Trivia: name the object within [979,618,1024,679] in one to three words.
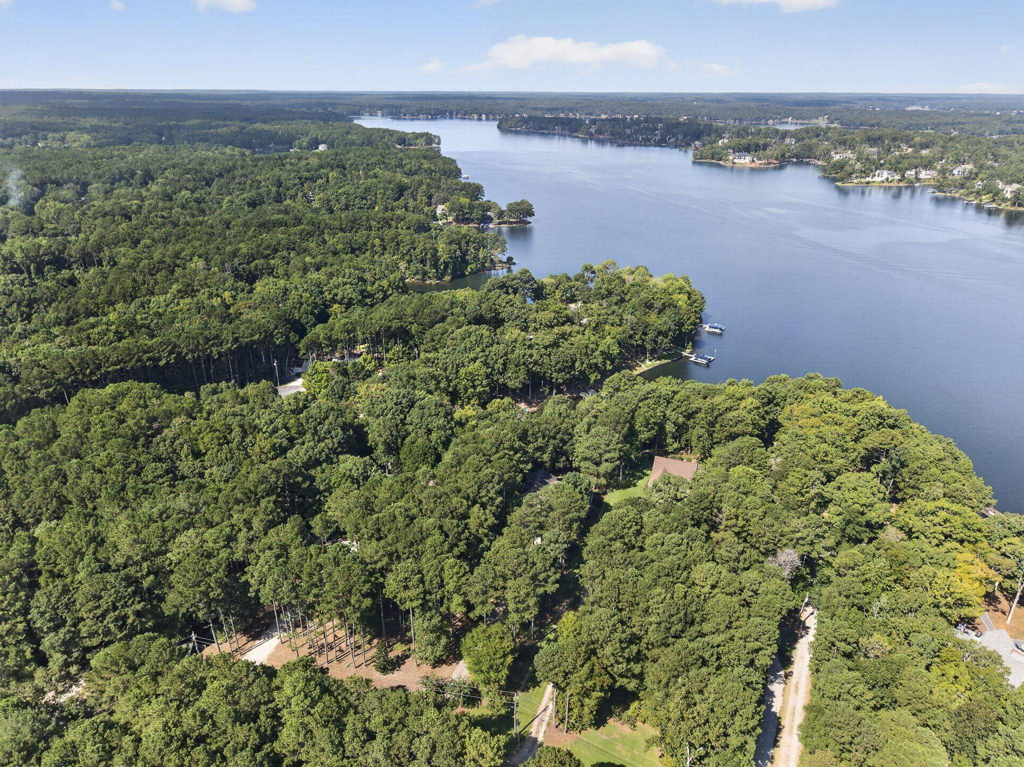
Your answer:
house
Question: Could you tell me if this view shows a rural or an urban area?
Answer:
rural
